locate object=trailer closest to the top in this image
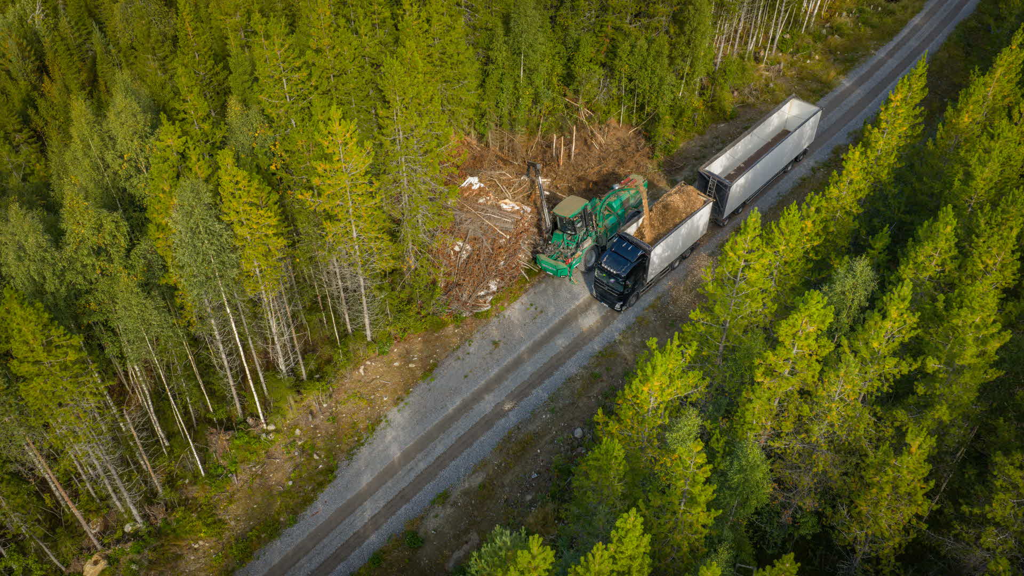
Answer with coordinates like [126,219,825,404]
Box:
[695,96,823,226]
